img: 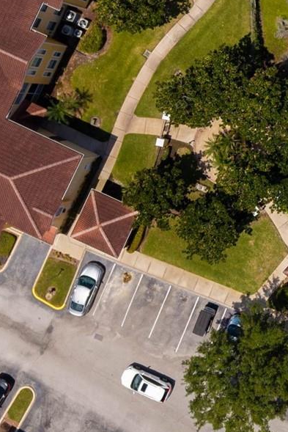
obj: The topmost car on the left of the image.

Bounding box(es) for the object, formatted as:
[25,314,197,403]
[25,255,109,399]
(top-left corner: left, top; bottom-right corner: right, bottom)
[64,258,111,320]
